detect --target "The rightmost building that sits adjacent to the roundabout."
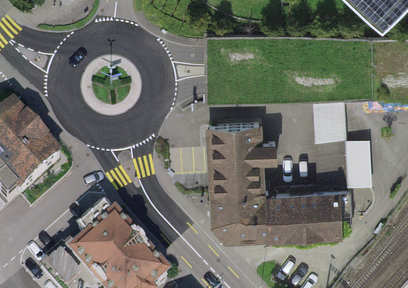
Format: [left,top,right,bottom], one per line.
[208,119,353,246]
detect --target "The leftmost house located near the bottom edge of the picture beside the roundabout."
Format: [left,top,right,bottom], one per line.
[67,196,172,288]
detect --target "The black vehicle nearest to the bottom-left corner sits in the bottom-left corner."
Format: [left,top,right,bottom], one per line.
[25,256,44,279]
